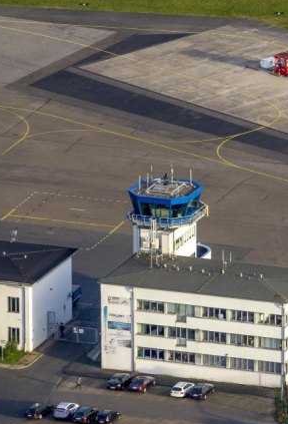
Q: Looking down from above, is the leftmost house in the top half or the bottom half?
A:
bottom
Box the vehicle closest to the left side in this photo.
[27,402,56,419]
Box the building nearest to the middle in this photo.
[124,165,213,259]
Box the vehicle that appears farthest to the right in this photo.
[192,382,220,399]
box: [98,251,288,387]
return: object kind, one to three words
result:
building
